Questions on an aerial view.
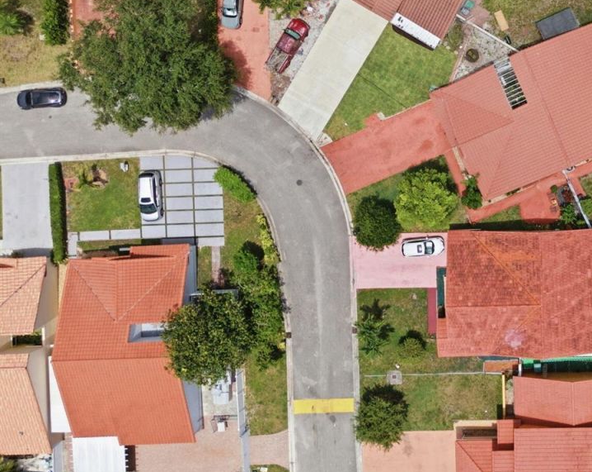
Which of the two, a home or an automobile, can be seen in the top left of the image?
automobile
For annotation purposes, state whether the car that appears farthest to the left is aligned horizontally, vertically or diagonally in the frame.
horizontally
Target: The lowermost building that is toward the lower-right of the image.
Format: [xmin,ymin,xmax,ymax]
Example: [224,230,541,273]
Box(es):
[456,370,592,472]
